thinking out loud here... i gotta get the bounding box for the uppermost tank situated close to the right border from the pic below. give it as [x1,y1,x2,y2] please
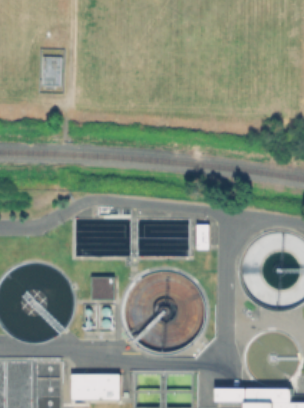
[240,230,304,310]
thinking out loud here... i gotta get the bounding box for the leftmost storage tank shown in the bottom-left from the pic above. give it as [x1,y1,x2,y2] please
[0,262,78,344]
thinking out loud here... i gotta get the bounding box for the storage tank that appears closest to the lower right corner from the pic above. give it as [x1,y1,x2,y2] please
[244,328,304,388]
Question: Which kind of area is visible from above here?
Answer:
industrial area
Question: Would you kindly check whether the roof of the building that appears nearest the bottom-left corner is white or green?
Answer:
white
